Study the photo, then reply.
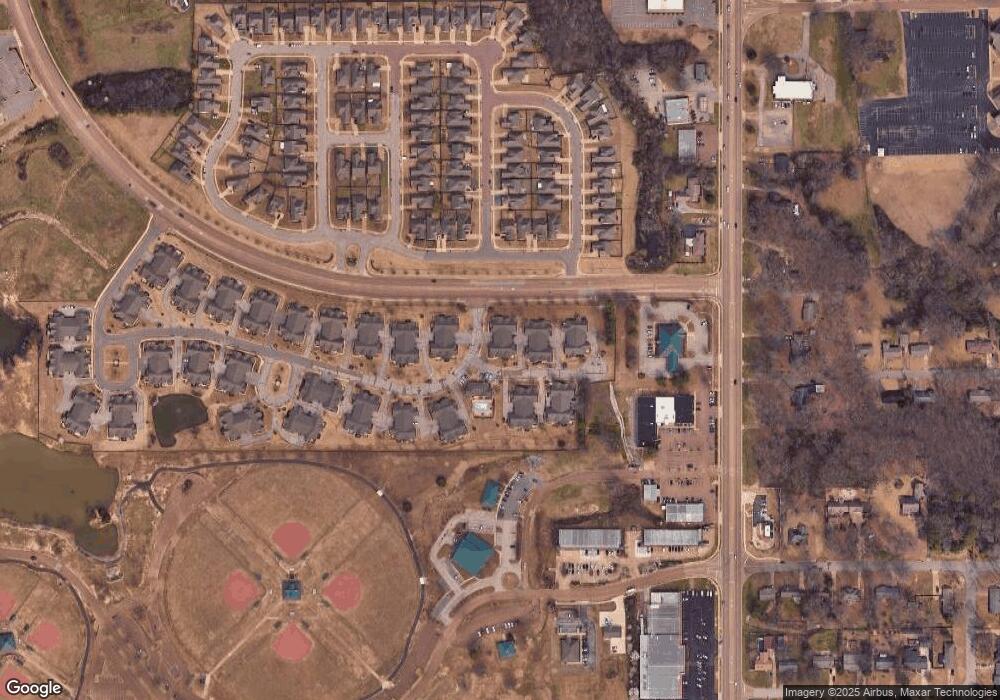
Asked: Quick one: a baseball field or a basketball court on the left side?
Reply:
baseball field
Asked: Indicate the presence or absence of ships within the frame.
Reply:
No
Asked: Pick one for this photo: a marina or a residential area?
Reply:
residential area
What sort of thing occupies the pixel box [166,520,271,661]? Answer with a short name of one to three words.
baseball field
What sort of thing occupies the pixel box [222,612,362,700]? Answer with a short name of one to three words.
baseball field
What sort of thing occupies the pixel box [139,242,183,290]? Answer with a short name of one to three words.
building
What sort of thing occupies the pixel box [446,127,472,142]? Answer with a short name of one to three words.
house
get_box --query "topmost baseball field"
[222,465,362,569]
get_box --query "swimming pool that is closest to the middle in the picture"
[472,397,492,418]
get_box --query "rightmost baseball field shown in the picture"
[313,520,418,661]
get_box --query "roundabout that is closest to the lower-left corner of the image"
[95,334,139,393]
